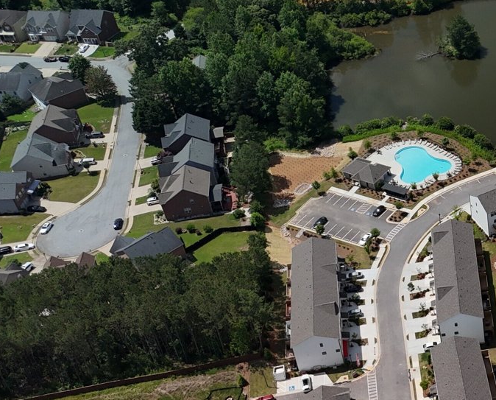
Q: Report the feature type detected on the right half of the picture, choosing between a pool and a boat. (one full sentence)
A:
What appears on the right half of the picture is a pool.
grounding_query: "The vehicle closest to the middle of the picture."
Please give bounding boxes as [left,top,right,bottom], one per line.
[312,216,327,228]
